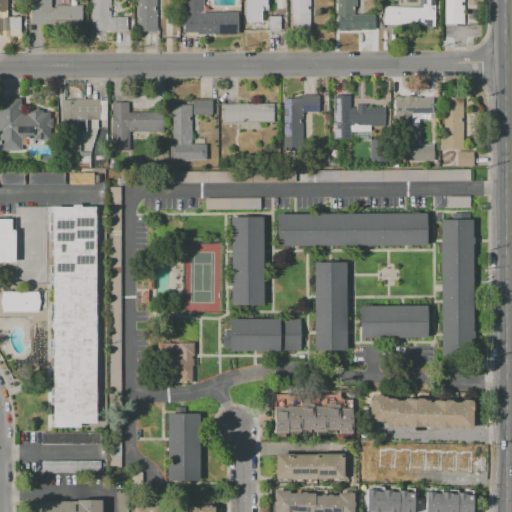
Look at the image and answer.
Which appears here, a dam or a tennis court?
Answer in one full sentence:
The image shows a tennis court.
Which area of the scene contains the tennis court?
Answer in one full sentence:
Look in the center portion of the view to spot the tennis court.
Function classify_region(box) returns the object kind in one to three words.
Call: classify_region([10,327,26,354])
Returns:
swimming pool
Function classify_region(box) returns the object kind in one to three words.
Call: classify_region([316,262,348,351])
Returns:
building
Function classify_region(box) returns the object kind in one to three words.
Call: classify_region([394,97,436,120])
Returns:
house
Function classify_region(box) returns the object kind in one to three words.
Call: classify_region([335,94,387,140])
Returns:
house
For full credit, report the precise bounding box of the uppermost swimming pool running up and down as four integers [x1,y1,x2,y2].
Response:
[157,262,169,293]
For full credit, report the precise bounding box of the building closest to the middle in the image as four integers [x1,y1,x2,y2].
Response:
[232,216,265,306]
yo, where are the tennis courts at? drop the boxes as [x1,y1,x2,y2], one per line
[186,243,222,312]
